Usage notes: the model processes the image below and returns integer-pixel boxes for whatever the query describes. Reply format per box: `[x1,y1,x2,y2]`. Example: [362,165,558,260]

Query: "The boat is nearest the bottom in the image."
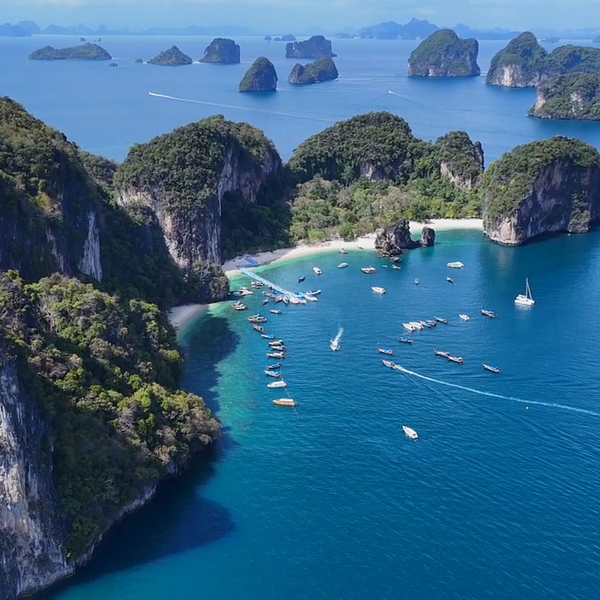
[404,424,419,439]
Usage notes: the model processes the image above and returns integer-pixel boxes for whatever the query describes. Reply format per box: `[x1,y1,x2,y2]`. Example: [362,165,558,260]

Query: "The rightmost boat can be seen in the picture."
[516,283,535,305]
